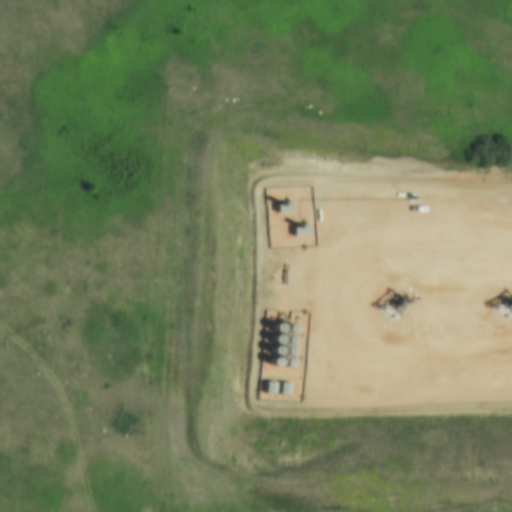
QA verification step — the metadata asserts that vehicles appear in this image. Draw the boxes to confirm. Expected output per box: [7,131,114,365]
[412,206,430,214]
[398,191,421,202]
